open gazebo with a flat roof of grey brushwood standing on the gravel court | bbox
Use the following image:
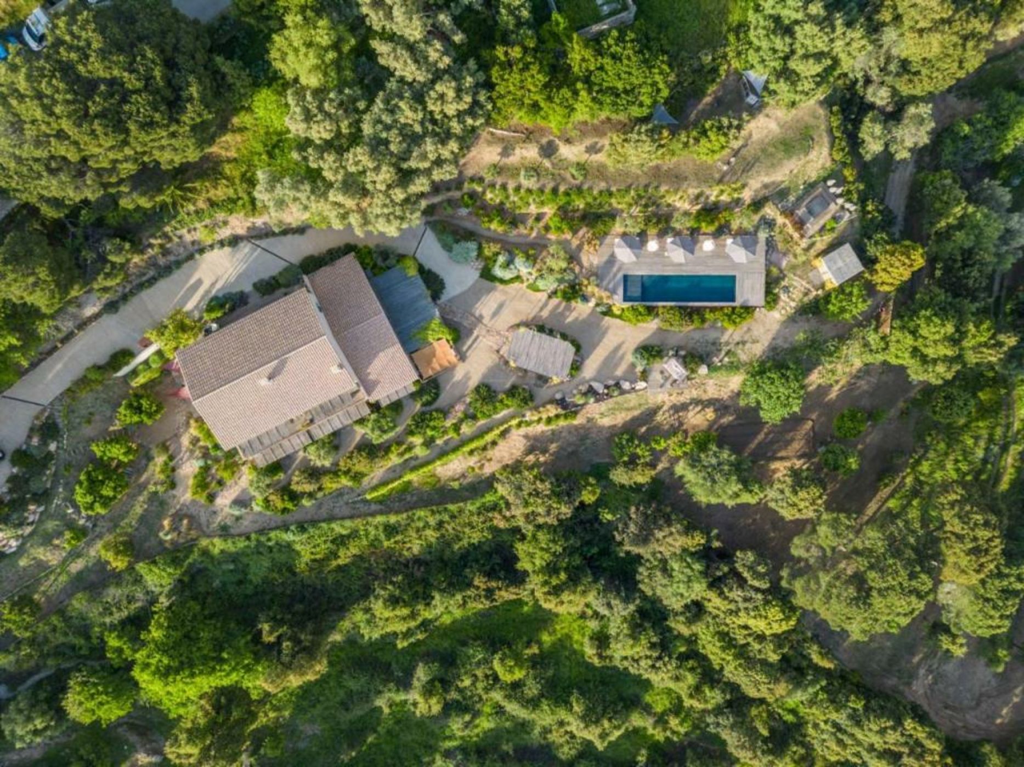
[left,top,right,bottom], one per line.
[507,328,575,380]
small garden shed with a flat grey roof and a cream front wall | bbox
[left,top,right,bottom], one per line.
[813,243,864,287]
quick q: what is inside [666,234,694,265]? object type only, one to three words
umbrella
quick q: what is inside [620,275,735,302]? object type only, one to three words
swimming pool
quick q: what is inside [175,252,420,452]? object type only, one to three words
house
